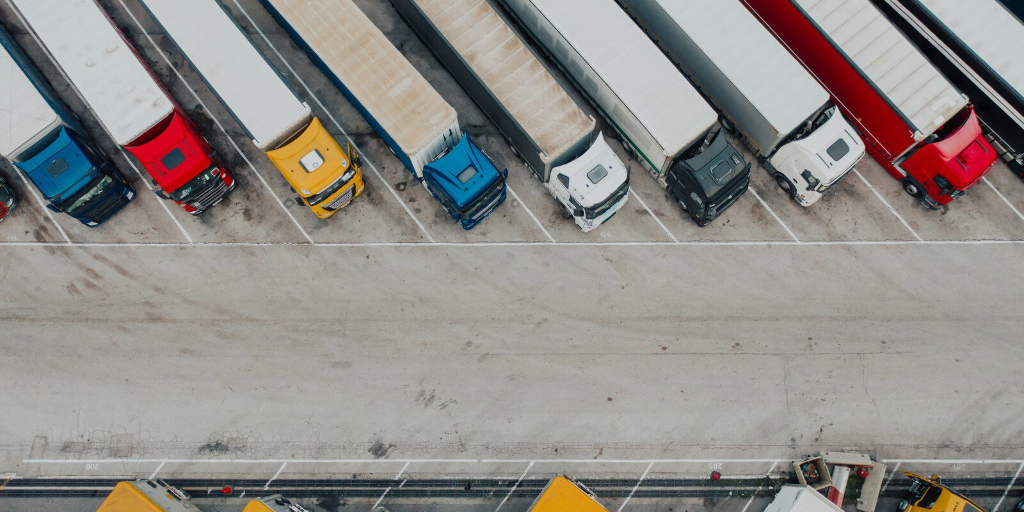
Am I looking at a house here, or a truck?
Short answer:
truck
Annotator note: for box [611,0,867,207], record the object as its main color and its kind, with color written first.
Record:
white truck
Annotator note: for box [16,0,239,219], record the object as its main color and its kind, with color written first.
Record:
white truck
